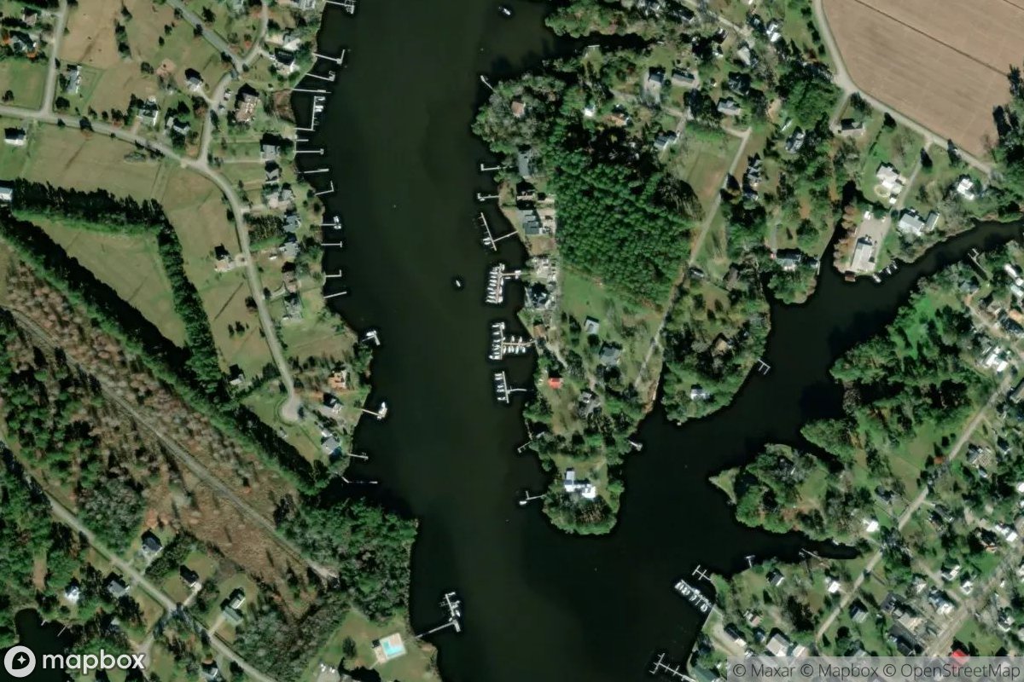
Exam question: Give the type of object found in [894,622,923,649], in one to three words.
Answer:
building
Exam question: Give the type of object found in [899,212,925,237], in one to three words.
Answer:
house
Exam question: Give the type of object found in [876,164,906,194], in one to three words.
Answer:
house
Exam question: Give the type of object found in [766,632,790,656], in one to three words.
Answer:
building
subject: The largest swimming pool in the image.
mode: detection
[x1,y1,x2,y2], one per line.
[377,633,406,660]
